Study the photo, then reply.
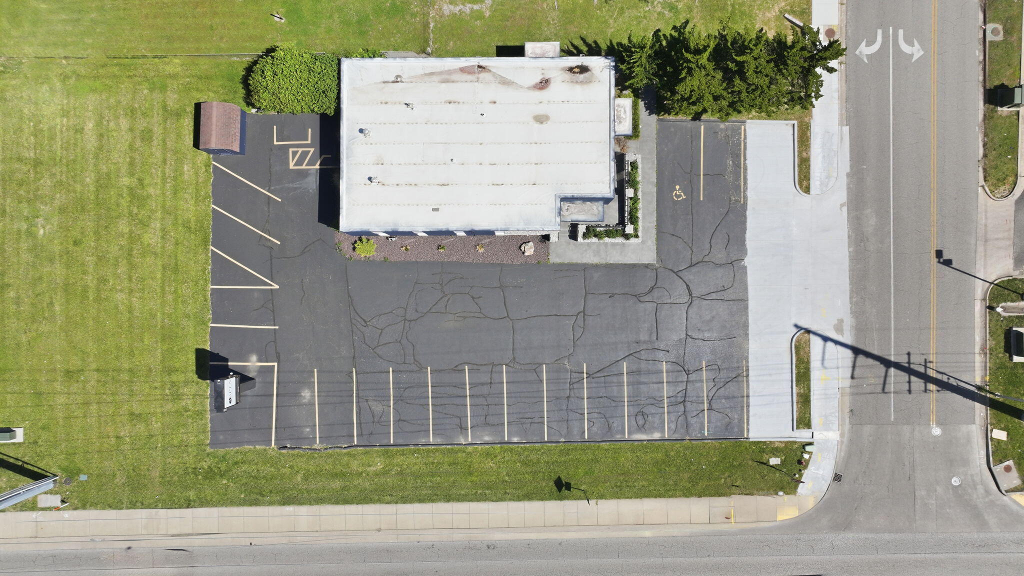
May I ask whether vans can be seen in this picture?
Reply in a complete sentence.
No, no van is visible in the view.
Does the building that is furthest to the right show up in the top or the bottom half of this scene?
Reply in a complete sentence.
The building that is furthest to the right is in the top half of the image.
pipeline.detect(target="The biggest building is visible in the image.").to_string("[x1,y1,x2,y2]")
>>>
[341,43,632,236]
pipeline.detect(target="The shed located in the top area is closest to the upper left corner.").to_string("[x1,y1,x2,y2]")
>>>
[201,102,245,160]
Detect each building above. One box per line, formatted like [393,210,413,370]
[201,102,245,160]
[341,43,632,236]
